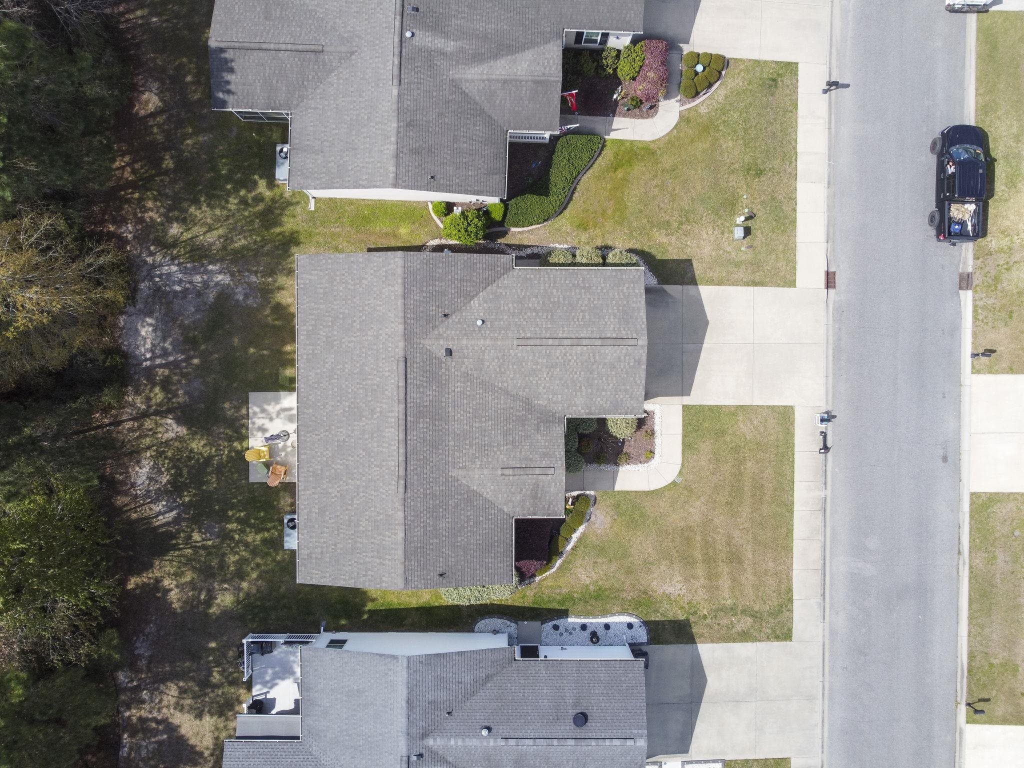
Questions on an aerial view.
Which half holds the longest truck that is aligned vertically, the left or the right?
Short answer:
right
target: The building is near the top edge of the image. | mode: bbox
[208,0,645,203]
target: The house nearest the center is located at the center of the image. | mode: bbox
[297,251,648,590]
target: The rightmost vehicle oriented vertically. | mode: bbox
[928,124,988,248]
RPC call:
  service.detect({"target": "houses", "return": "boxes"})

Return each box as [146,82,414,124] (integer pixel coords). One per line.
[297,251,648,590]
[208,0,645,203]
[221,629,649,768]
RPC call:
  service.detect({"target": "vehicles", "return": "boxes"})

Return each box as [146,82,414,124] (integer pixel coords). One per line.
[928,124,988,248]
[941,0,988,13]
